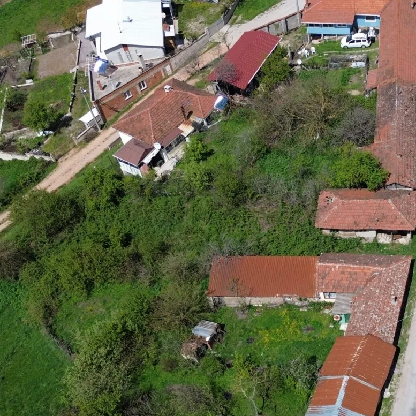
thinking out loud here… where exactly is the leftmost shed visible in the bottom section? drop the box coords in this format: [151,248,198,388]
[193,320,226,349]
